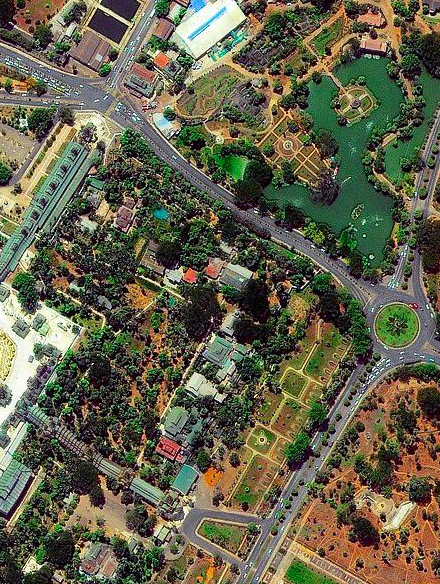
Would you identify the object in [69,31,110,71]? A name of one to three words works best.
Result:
building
